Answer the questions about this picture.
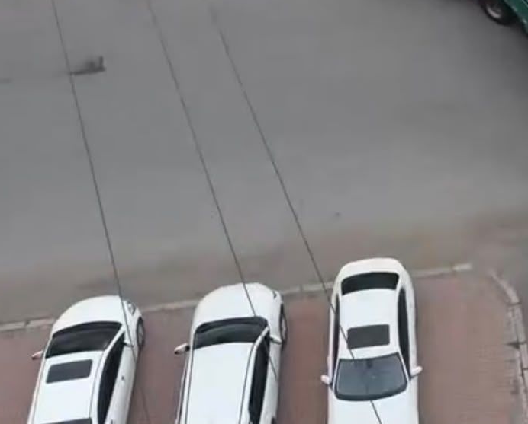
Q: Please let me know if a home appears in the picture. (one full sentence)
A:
No, there's no home here.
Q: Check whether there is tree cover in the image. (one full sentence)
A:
No, there's no tree cover in this view.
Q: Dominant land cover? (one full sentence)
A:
The scene is dominated by paved ground.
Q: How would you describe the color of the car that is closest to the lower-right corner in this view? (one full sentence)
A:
The car that is closest to the lower-right corner is white.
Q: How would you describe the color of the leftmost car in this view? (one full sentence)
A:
The leftmost car is white.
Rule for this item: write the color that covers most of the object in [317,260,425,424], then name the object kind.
white car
